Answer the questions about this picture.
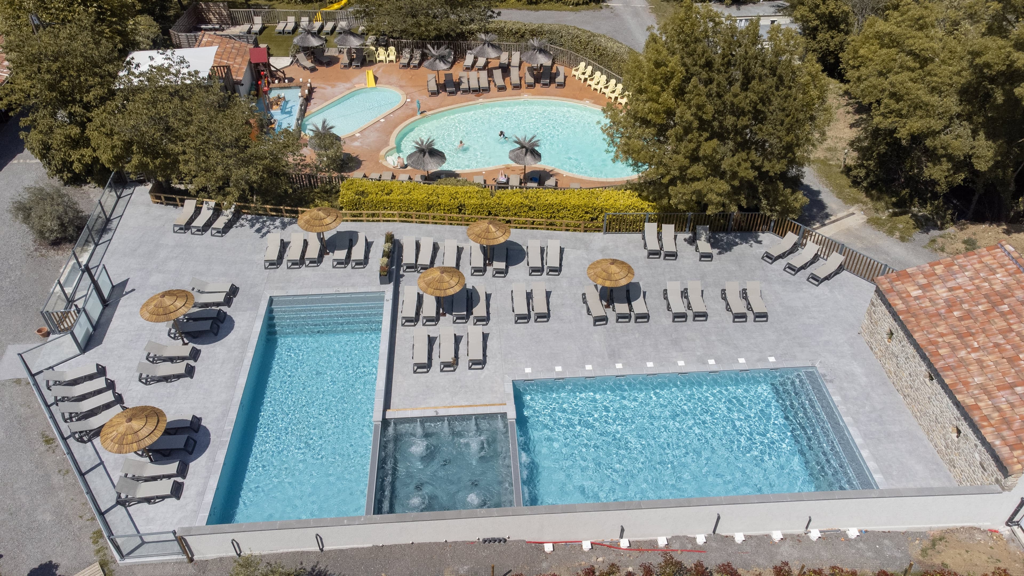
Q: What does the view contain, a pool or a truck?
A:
pool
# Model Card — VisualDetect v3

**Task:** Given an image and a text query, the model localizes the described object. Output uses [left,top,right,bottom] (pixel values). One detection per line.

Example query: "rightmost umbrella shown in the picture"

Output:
[586,261,636,310]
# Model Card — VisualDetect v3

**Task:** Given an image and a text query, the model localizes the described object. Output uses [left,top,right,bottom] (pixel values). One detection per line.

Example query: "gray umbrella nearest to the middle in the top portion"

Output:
[507,136,543,185]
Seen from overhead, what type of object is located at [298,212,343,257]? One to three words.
umbrella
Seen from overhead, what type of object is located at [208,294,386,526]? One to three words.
swimming pool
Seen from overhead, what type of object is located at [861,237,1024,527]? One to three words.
building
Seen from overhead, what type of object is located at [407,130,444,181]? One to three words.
umbrella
